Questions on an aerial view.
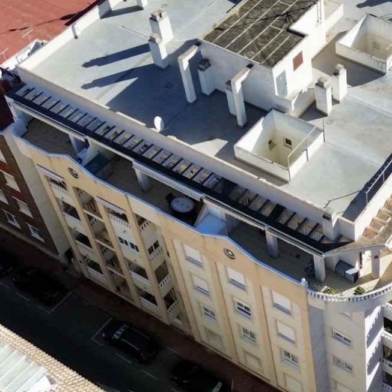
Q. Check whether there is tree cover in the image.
No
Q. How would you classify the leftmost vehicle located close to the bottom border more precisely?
automobile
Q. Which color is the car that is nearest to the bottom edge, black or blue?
black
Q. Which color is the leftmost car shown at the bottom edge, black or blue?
black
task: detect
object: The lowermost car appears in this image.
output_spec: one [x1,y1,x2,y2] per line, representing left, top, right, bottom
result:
[166,358,233,392]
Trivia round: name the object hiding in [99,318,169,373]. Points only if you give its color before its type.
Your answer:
black car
